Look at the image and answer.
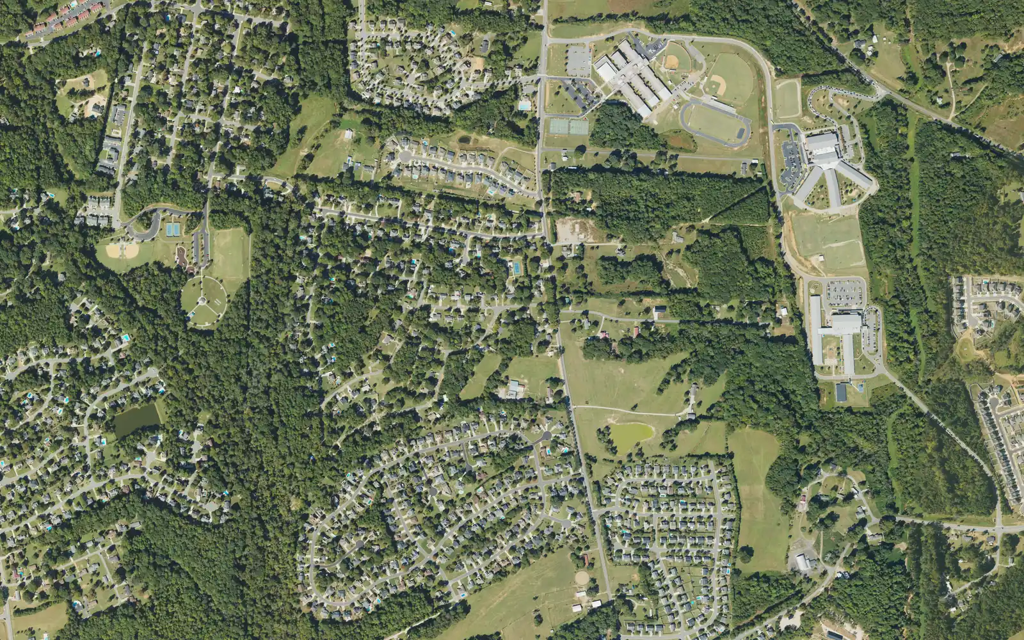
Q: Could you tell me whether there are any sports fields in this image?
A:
Yes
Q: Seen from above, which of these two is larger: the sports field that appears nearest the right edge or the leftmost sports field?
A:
the sports field that appears nearest the right edge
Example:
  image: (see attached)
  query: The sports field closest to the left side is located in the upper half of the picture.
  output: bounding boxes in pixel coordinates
[683,104,742,143]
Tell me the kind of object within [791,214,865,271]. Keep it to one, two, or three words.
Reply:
sports field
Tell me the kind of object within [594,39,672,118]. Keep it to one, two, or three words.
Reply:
building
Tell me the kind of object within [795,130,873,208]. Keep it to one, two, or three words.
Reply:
building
